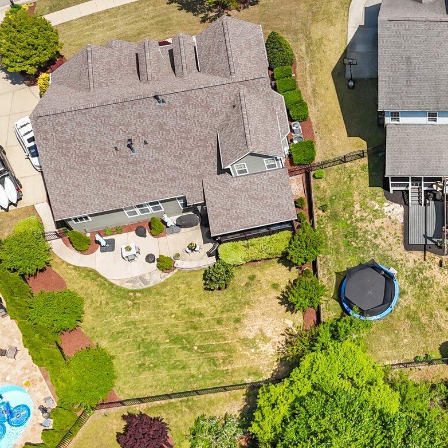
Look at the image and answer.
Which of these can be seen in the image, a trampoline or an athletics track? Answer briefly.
trampoline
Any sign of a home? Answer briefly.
Yes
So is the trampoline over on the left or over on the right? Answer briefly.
right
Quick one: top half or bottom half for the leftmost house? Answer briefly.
top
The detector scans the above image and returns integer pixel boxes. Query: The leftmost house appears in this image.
[33,15,298,259]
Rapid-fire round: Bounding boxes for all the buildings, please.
[378,0,448,206]
[33,15,298,259]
